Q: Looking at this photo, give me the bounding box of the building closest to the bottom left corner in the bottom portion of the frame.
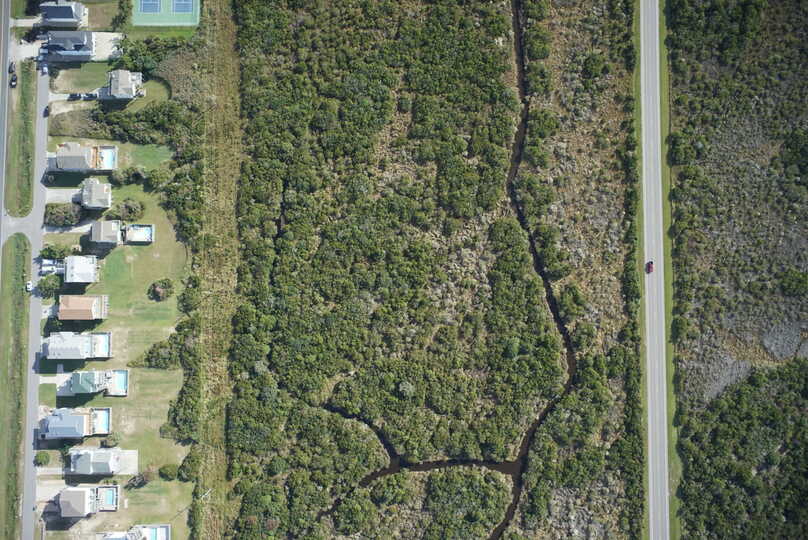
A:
[58,485,99,518]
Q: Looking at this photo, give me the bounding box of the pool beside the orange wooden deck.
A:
[97,146,118,169]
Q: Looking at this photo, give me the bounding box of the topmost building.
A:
[39,0,88,31]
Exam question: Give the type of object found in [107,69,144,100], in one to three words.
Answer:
house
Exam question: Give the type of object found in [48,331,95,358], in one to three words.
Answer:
house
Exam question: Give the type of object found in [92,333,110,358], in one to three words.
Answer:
swimming pool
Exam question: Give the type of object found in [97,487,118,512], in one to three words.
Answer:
swimming pool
